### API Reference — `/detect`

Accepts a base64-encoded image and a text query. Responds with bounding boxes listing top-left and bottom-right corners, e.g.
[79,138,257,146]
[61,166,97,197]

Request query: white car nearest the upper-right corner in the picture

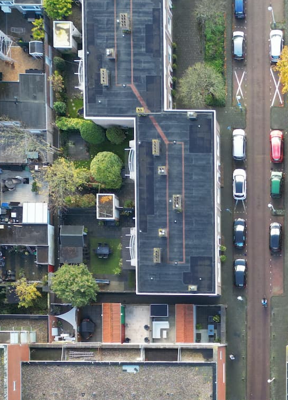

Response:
[268,29,285,64]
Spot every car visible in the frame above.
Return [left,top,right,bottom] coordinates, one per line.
[268,29,285,64]
[268,130,285,163]
[235,0,246,21]
[230,31,246,61]
[269,172,284,198]
[268,222,284,253]
[232,259,248,290]
[231,218,247,250]
[230,129,247,160]
[231,169,248,201]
